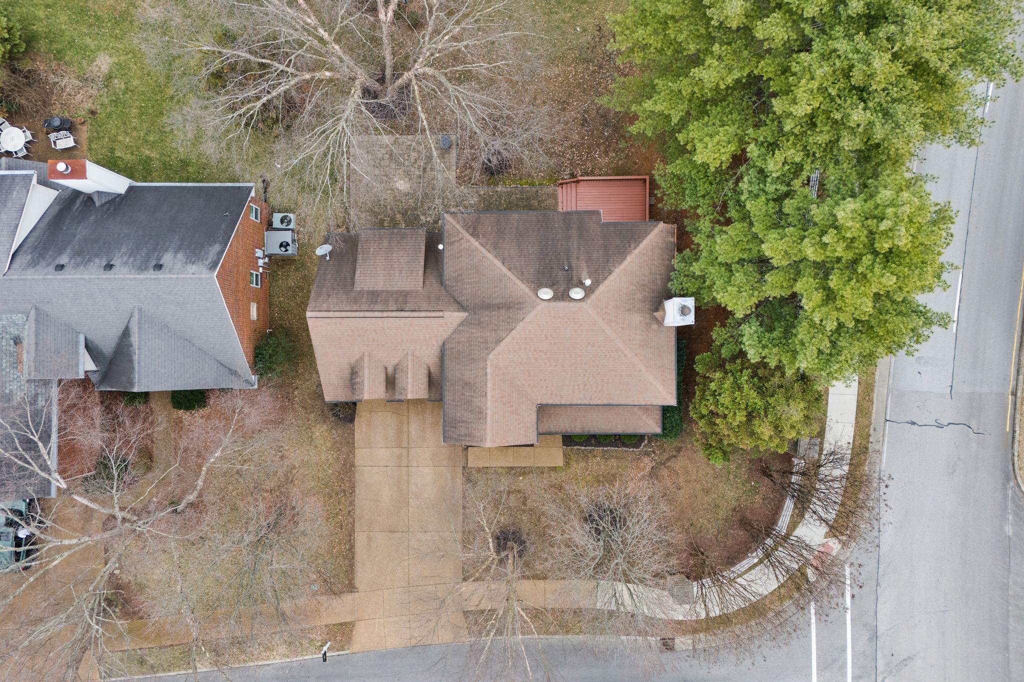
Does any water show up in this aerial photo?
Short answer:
No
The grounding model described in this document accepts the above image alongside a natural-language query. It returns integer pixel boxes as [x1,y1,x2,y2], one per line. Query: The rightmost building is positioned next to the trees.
[306,209,696,449]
